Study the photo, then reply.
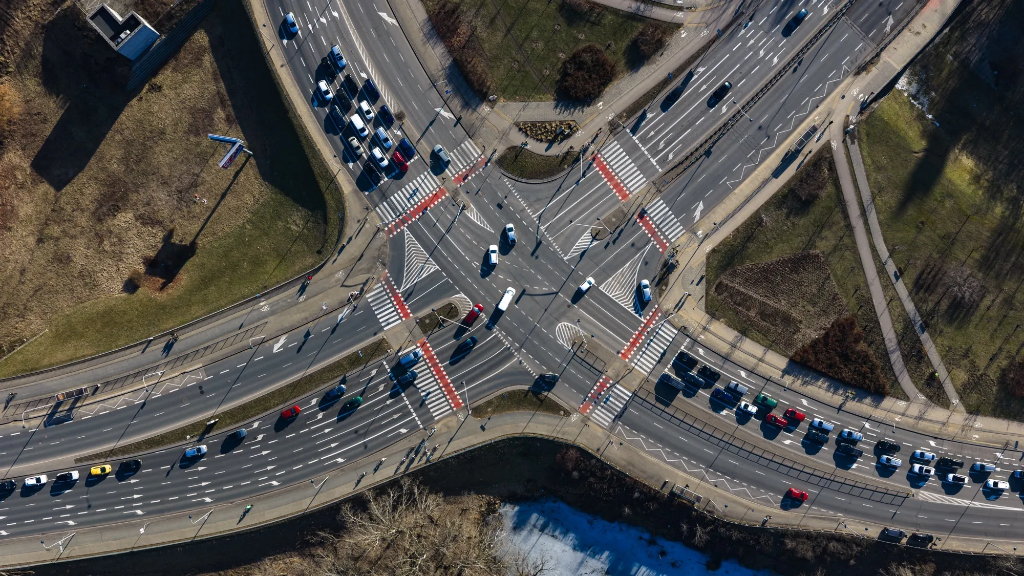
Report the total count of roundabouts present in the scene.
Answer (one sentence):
There are no roundabouts in this view.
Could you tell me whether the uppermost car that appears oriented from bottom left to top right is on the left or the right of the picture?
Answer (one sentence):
It is on the right.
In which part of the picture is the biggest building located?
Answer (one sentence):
The biggest building is in the top left part of the image.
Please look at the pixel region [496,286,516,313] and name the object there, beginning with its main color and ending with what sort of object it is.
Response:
white vehicle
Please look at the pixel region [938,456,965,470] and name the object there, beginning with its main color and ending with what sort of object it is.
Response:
black car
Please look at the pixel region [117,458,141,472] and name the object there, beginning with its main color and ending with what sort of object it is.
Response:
black car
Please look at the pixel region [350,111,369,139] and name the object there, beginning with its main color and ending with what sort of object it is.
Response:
white vehicle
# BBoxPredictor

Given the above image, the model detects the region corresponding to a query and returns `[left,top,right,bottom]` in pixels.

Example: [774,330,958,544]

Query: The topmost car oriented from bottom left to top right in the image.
[783,8,809,35]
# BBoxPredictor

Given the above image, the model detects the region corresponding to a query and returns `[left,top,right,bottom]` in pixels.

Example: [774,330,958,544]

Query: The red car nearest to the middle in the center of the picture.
[463,303,482,326]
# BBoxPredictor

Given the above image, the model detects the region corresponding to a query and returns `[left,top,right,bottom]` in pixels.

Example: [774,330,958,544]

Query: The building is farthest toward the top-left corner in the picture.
[86,3,164,61]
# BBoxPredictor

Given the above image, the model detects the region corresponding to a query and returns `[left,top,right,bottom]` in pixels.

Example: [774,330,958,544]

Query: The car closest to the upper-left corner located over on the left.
[284,11,300,34]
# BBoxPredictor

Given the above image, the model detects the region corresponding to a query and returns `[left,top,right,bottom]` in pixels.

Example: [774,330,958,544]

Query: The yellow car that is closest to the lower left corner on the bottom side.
[90,464,113,476]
